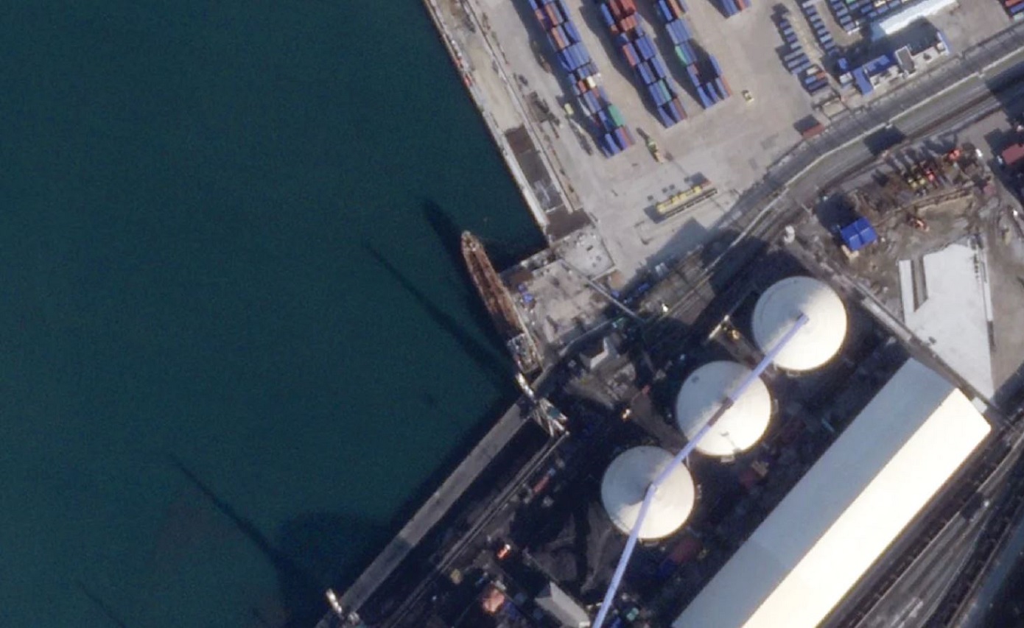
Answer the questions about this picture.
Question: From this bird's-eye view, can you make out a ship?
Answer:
Yes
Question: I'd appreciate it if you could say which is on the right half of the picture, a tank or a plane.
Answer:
tank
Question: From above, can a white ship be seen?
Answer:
No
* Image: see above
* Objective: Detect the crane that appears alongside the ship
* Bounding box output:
[511,374,574,442]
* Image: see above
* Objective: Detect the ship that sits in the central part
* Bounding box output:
[465,230,549,379]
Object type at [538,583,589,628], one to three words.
shed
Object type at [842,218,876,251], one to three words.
house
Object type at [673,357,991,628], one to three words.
warehouse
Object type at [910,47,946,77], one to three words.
building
